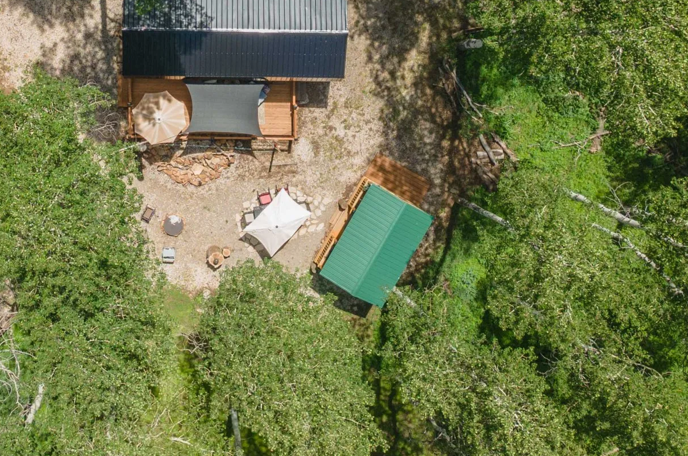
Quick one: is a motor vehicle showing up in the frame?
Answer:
No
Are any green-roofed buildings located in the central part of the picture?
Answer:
Yes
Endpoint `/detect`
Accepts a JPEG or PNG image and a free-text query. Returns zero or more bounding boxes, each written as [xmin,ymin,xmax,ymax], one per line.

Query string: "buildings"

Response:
[121,0,349,85]
[319,183,434,308]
